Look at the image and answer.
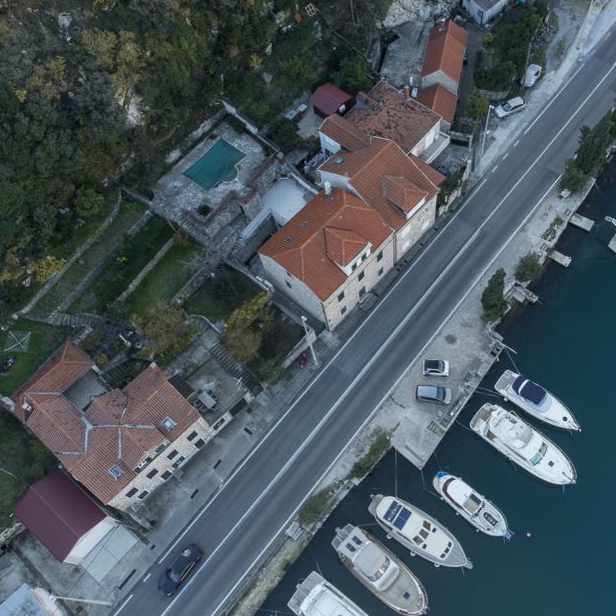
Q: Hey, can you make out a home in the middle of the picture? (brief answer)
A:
Yes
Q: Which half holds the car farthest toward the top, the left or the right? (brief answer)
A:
right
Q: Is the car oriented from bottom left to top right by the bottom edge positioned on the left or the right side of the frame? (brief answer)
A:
left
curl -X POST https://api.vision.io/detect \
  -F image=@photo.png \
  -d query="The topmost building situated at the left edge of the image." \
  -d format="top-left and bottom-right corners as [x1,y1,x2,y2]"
[0,340,214,509]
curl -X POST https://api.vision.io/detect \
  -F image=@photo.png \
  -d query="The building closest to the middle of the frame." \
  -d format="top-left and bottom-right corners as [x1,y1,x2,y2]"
[258,182,392,327]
